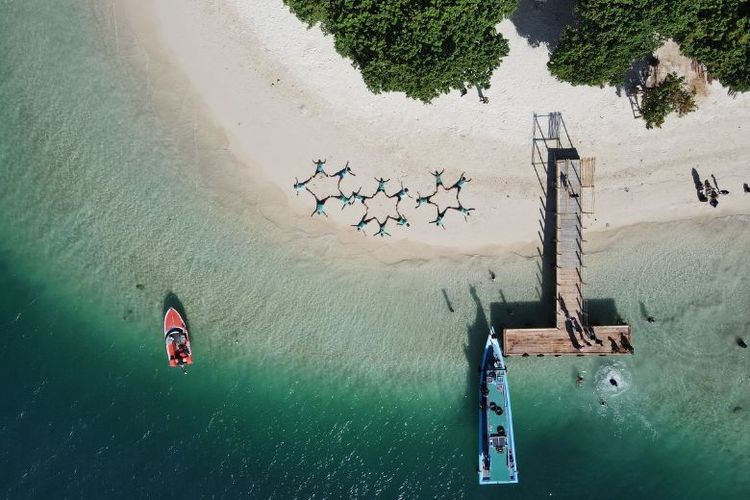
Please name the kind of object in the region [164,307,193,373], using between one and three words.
boat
